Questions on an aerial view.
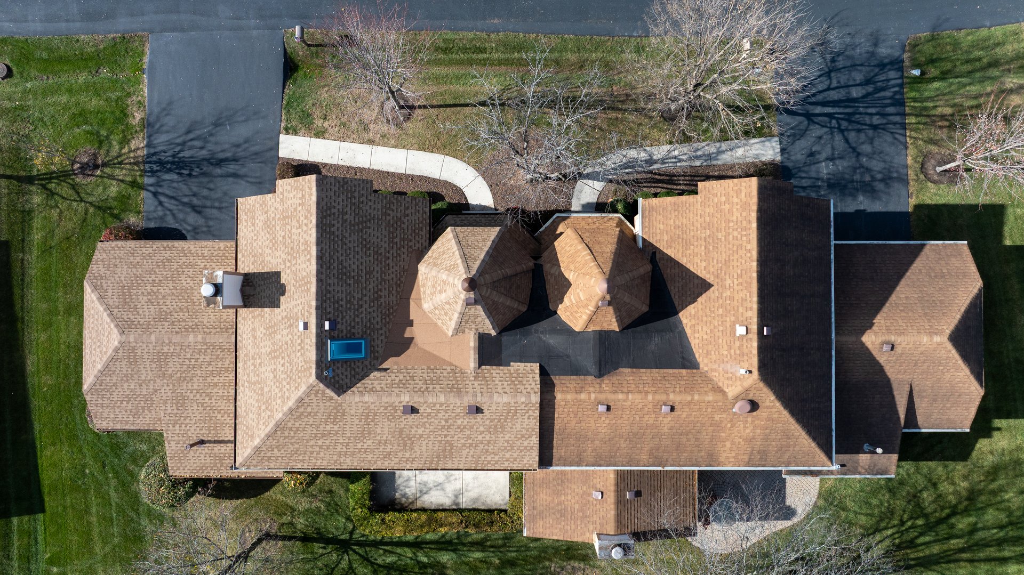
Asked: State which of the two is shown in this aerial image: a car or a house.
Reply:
house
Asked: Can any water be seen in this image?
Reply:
No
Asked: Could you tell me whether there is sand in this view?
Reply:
No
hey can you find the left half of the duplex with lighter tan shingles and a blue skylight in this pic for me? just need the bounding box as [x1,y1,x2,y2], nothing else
[83,174,540,479]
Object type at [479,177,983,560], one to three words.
house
